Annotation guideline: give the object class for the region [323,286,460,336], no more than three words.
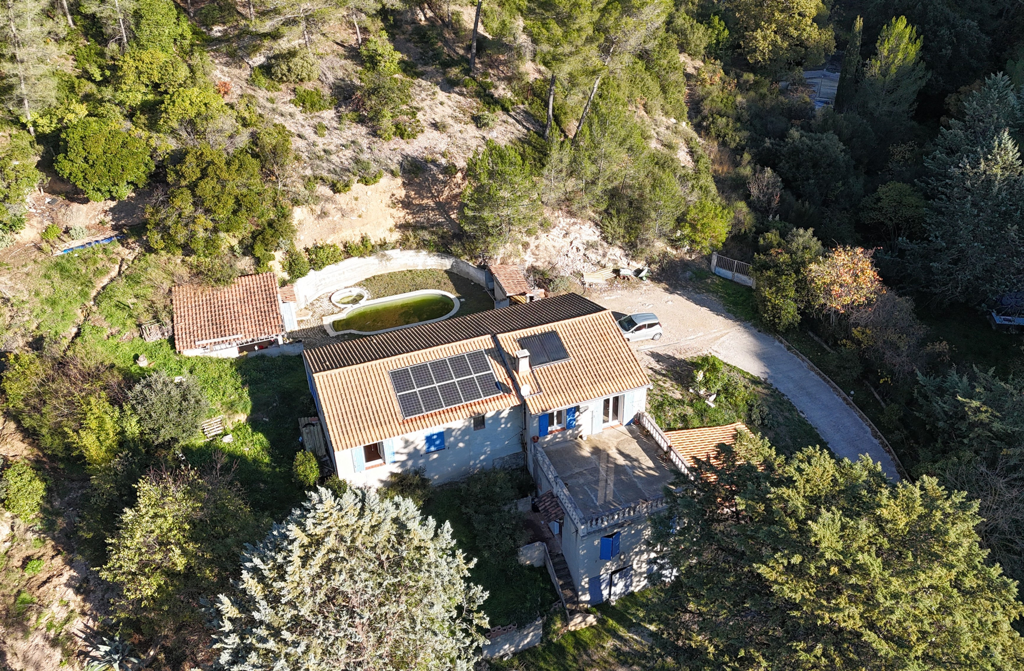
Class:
swimming pool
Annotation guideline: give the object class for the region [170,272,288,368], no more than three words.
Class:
shed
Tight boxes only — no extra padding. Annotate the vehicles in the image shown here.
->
[616,314,666,345]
